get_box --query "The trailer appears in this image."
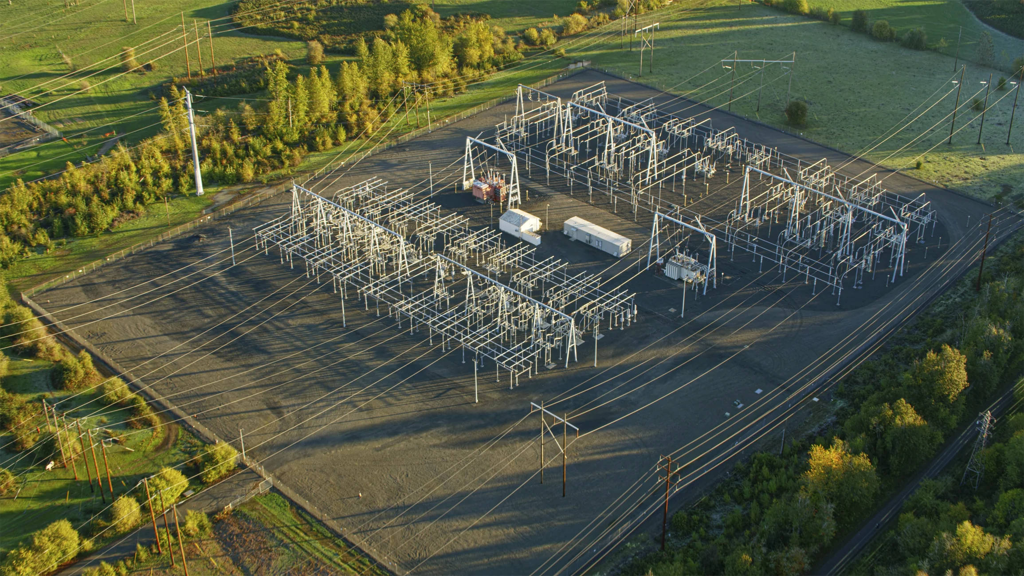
[564,216,631,257]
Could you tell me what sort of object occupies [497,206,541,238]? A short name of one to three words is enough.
shed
